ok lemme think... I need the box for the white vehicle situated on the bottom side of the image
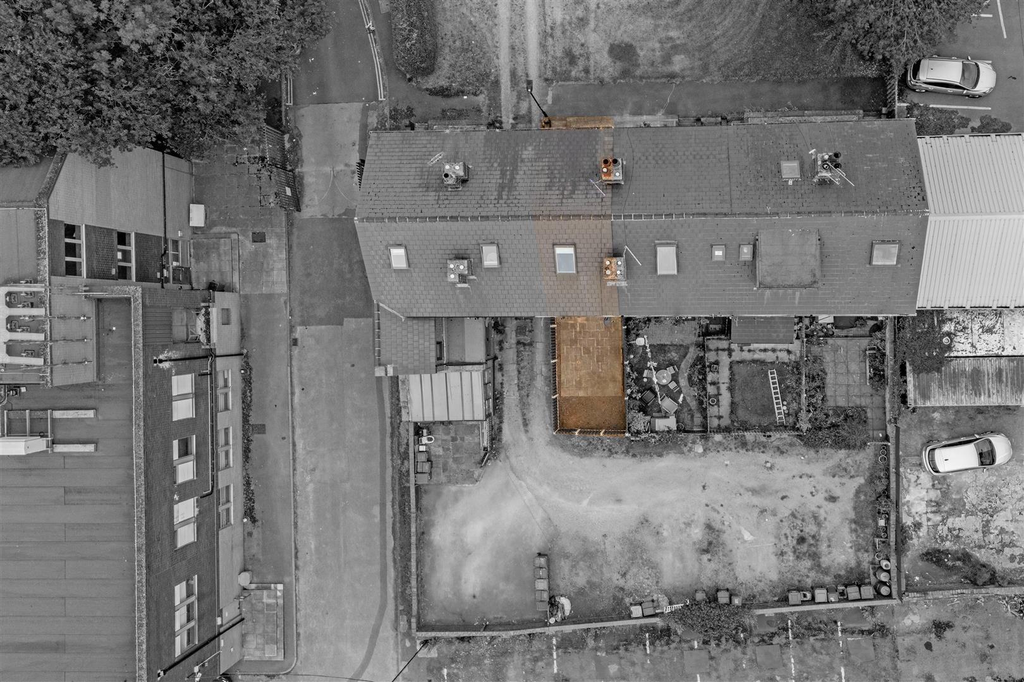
[921,428,1009,475]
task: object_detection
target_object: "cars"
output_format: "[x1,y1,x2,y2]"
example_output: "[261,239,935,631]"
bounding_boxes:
[905,54,993,100]
[921,428,1009,475]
